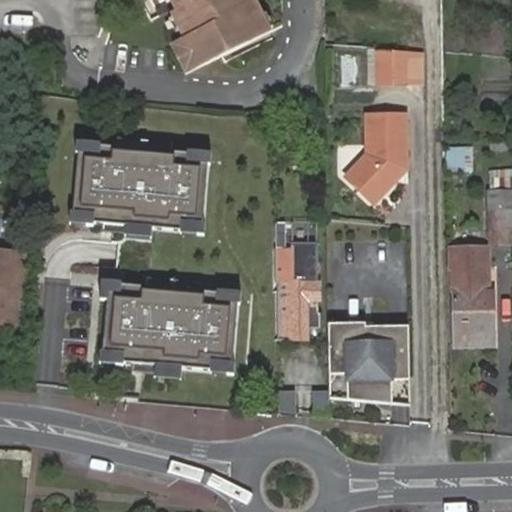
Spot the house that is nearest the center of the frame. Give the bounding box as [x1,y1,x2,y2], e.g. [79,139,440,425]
[276,222,322,342]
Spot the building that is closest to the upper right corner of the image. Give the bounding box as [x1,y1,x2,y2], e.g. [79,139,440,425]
[376,50,424,87]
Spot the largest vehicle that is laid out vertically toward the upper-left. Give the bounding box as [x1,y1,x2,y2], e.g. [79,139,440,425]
[115,44,128,74]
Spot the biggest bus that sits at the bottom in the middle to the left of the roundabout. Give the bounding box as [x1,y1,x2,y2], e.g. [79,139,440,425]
[168,460,255,506]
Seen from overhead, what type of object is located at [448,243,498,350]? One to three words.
house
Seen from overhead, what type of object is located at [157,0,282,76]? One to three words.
house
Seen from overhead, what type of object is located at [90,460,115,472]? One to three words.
vehicle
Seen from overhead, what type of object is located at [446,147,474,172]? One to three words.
shed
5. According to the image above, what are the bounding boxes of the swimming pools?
[340,54,360,88]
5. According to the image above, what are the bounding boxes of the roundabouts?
[261,458,319,512]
